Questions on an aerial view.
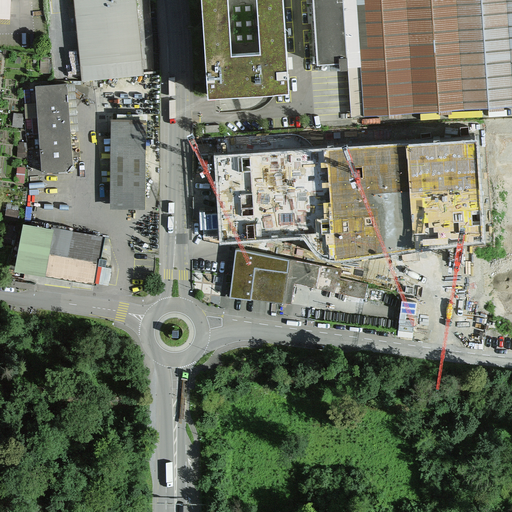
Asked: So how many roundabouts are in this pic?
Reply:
1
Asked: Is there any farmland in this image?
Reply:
No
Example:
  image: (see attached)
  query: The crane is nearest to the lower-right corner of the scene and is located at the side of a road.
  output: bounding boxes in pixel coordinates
[436,229,466,390]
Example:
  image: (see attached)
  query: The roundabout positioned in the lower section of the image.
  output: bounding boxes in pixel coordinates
[138,296,212,368]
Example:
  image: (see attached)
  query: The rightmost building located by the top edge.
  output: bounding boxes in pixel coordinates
[356,0,512,118]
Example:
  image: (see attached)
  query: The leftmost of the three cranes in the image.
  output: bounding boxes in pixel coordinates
[186,135,252,264]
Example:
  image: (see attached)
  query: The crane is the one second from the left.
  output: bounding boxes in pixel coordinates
[344,146,416,324]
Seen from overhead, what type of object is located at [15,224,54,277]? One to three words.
shed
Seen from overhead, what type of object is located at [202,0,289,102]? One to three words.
building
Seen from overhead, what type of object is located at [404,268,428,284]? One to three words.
vehicle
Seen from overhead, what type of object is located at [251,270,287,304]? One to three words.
building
